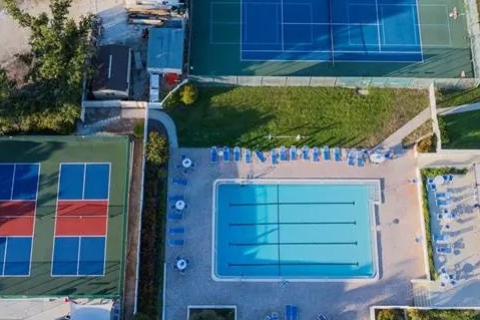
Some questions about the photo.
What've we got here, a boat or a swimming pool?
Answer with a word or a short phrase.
swimming pool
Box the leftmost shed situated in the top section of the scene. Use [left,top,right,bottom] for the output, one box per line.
[94,45,132,98]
